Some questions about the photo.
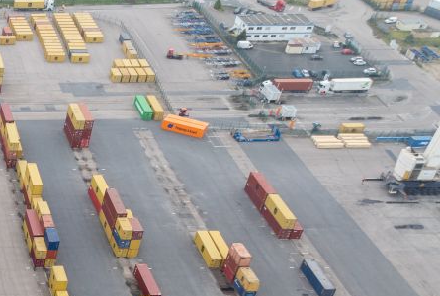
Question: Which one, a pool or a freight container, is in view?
freight container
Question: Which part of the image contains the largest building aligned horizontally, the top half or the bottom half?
top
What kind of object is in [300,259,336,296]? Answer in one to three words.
shipping container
